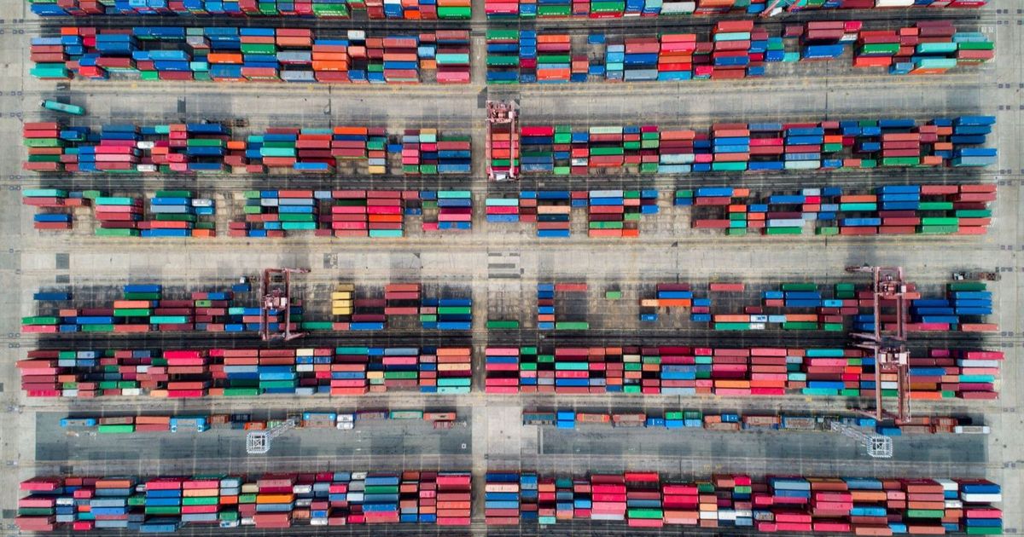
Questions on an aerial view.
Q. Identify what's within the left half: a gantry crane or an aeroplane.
gantry crane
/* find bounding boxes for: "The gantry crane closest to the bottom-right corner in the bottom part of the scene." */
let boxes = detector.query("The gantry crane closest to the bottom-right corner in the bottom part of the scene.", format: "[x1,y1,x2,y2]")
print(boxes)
[841,343,909,421]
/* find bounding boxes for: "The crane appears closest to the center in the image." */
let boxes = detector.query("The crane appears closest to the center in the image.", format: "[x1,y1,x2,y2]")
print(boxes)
[484,99,522,180]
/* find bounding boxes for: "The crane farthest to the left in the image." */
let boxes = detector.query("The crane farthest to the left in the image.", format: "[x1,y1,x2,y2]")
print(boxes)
[260,267,315,340]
